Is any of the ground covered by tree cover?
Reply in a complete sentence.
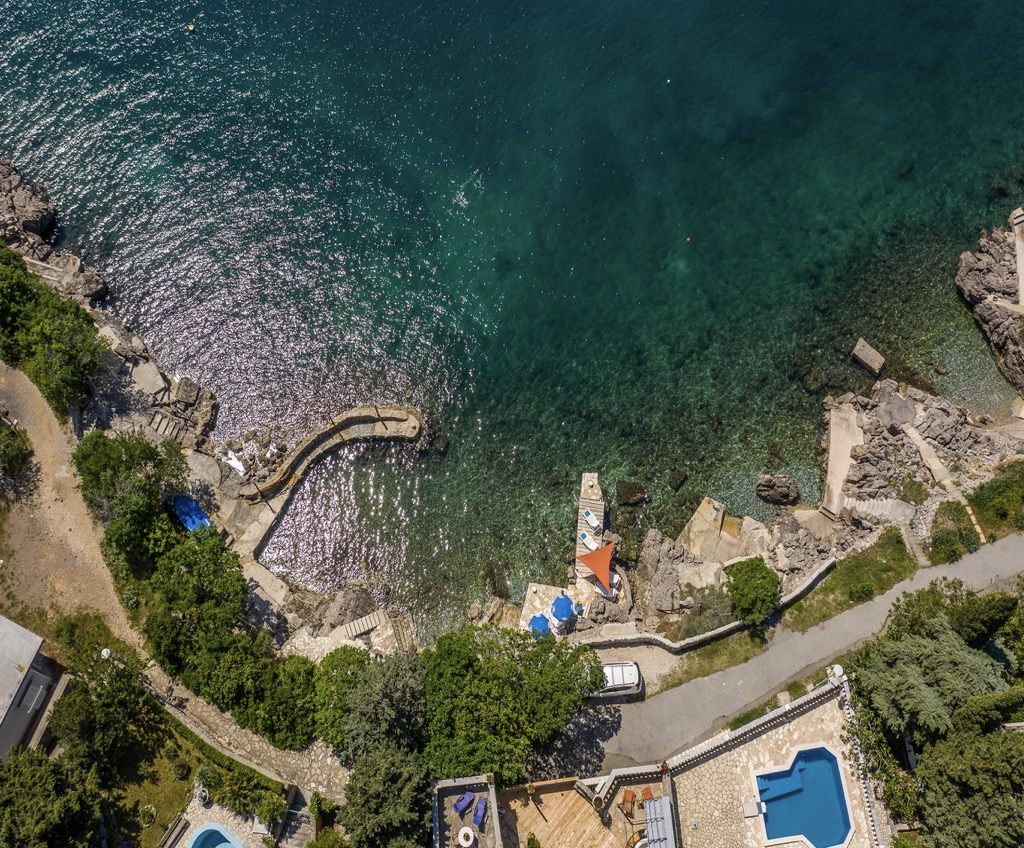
Yes, there's tree cover in this view.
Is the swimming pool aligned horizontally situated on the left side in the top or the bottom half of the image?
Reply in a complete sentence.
Seen from above, the swimming pool aligned horizontally situated on the left side lies in the bottom half of the view.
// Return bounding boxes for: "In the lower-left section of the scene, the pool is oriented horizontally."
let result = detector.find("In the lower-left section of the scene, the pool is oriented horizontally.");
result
[185,822,246,848]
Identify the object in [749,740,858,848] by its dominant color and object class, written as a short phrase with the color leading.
blue swimming pool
